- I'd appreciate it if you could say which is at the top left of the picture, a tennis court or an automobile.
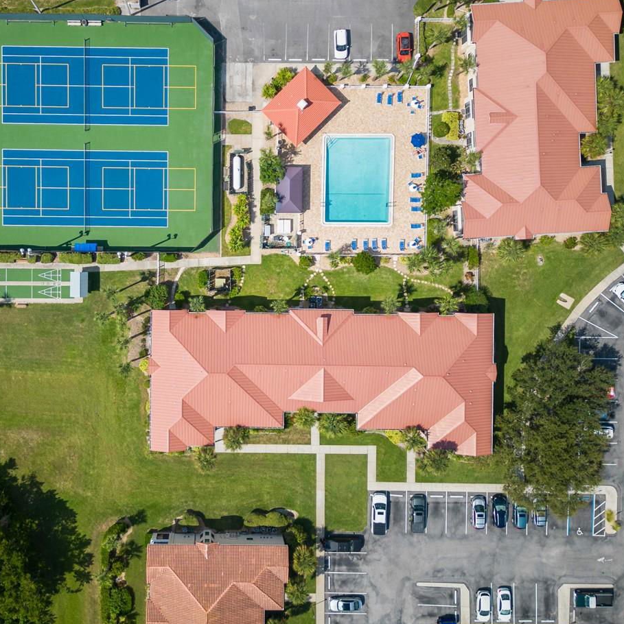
tennis court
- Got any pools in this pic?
Yes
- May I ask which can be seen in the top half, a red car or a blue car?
red car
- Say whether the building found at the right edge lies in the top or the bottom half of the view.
top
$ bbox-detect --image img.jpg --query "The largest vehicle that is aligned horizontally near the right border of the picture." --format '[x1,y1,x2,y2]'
[576,592,616,611]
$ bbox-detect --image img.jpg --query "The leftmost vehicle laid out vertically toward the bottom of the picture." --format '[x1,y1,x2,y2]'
[372,493,391,537]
